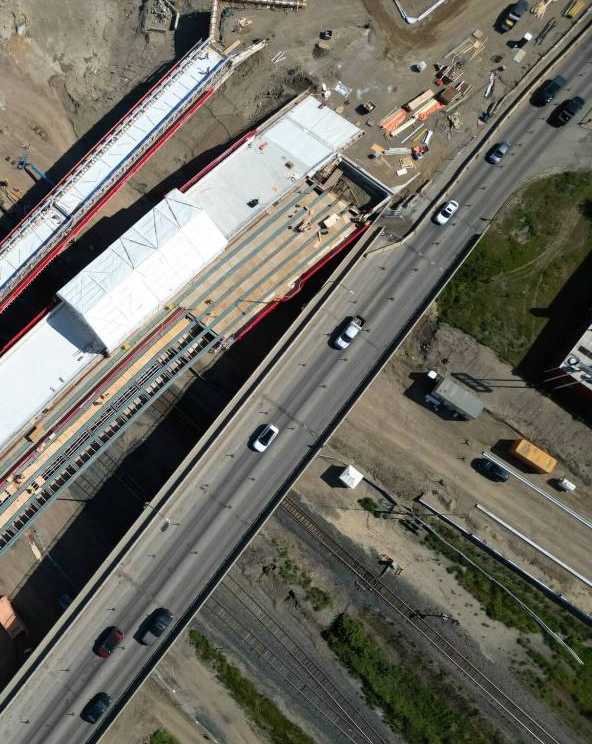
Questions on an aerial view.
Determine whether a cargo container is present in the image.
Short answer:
Yes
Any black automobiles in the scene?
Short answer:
Yes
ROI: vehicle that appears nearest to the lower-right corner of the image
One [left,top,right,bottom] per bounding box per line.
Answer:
[560,475,581,493]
